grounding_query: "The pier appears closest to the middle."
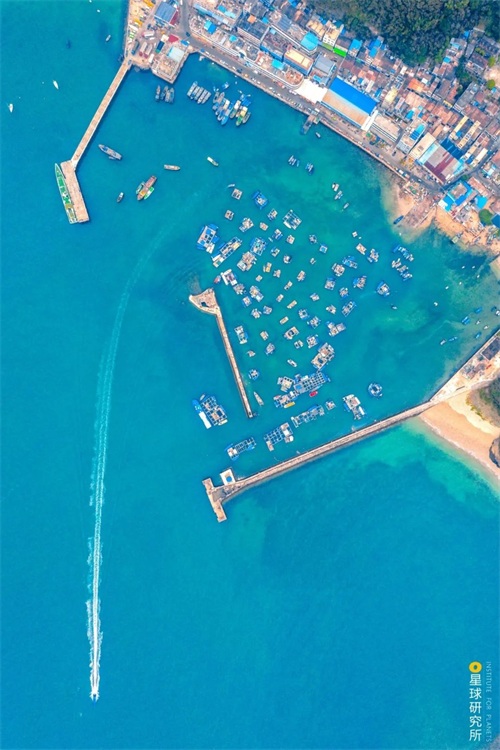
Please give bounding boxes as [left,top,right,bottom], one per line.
[190,289,255,417]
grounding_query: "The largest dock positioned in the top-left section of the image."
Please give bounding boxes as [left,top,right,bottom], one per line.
[61,61,133,223]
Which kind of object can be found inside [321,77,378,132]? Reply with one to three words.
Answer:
building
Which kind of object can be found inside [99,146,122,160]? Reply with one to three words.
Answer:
boat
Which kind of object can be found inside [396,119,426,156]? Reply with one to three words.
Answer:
house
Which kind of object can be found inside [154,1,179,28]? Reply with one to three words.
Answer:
house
